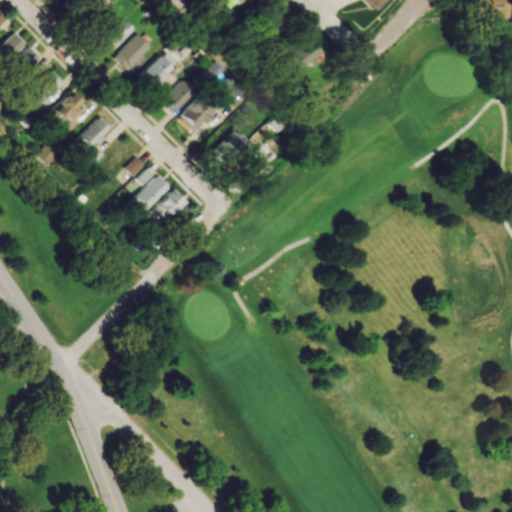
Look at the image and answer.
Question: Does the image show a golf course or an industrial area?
golf course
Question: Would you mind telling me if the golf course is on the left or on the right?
right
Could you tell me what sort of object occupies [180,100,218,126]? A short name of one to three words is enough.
house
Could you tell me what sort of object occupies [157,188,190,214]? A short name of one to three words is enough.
house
